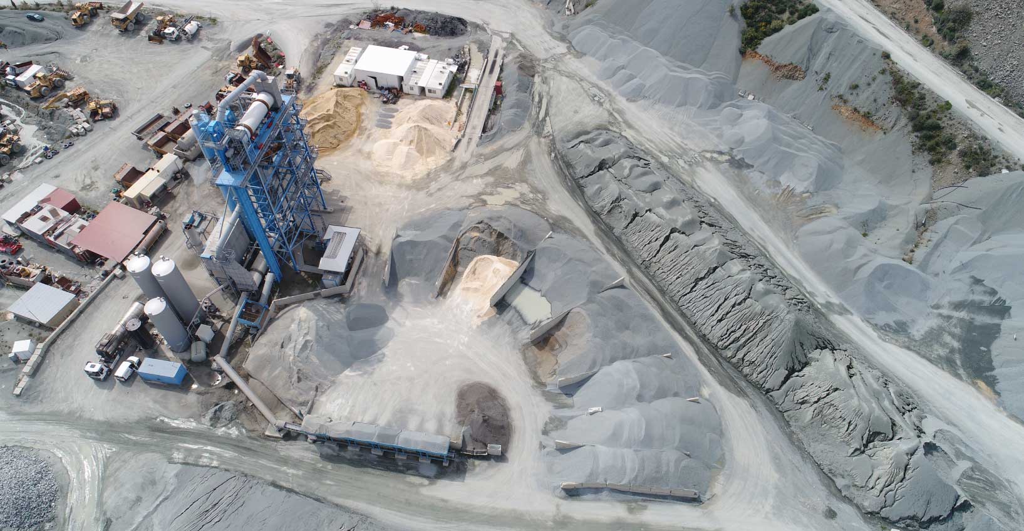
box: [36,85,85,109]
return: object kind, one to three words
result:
work vehicle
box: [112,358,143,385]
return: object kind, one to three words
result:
vehicle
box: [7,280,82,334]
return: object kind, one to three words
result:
shed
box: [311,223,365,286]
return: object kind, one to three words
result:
building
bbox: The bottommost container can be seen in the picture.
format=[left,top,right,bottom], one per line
[138,357,190,387]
